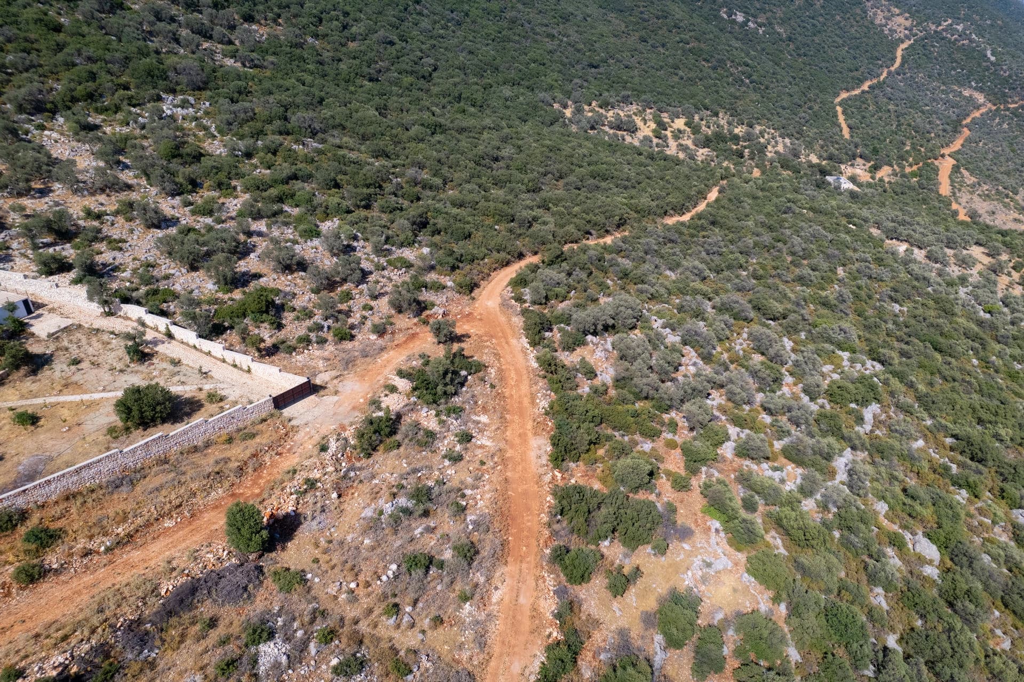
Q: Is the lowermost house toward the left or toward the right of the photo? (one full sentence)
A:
The lowermost house appears in the left half of the scene.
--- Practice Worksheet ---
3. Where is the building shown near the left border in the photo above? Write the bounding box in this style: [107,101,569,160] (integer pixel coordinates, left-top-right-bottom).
[0,283,33,323]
